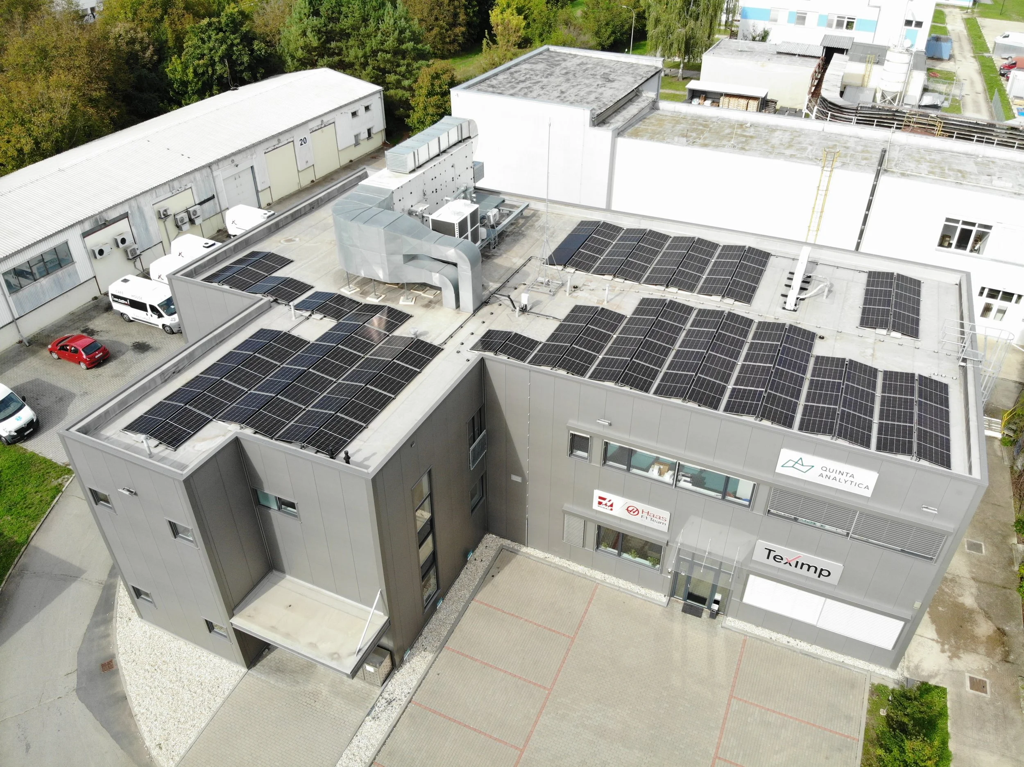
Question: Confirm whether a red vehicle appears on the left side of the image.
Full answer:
Yes, a red vehicle is visible on the left side of the image.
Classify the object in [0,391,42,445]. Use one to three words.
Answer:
van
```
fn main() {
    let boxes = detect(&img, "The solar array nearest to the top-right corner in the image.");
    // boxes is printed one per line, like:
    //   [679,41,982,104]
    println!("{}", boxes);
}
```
[857,272,922,342]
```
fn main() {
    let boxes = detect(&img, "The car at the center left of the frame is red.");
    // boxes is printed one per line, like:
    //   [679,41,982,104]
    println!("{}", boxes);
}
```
[45,333,113,369]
